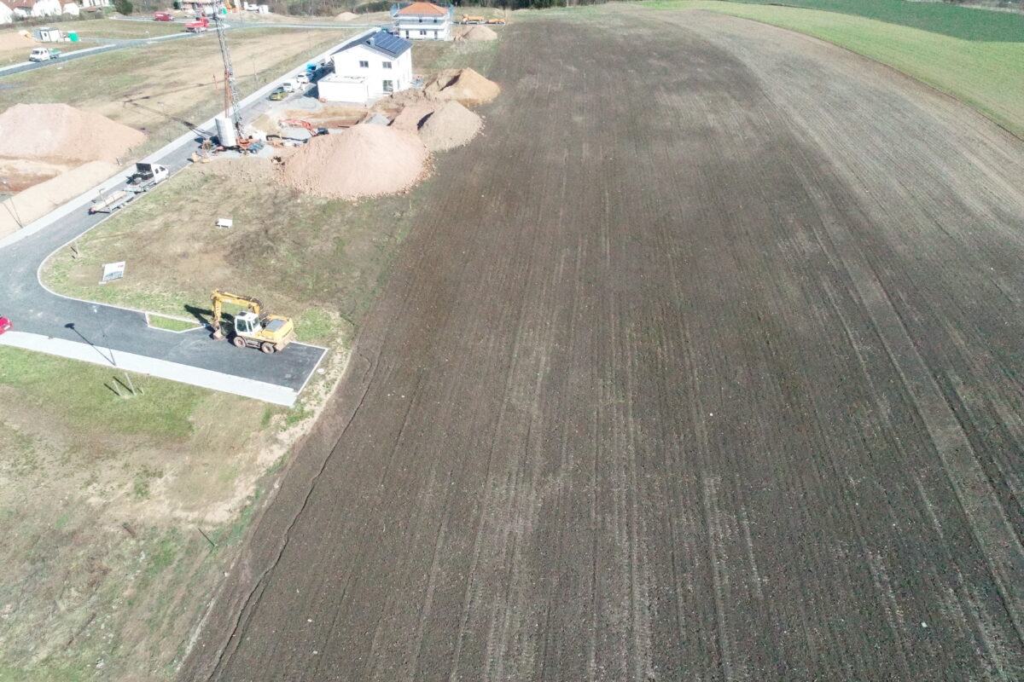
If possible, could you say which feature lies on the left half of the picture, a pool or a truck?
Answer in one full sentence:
It is a truck that can be seen on the left half of the picture.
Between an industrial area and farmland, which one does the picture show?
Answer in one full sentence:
The picture captures farmland.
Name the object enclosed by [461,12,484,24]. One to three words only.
vehicle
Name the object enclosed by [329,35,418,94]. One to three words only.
house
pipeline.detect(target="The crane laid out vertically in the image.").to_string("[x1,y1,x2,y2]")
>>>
[199,0,255,152]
